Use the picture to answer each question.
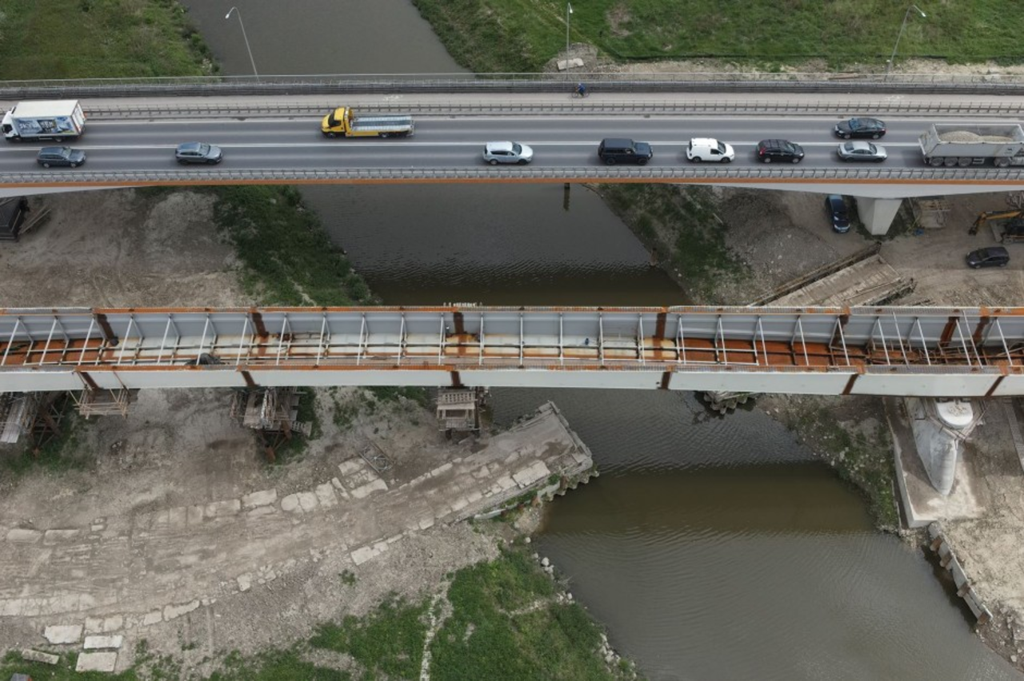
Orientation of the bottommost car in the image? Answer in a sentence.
What the image shows is the bottommost car lying from side to side.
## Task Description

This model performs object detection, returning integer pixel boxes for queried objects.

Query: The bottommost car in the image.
[966,245,1016,268]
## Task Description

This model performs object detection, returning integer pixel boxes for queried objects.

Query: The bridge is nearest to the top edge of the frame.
[0,91,1024,234]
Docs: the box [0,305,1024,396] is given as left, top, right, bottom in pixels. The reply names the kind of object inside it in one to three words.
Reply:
bridge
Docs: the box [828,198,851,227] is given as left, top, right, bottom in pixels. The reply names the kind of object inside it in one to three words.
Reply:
car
